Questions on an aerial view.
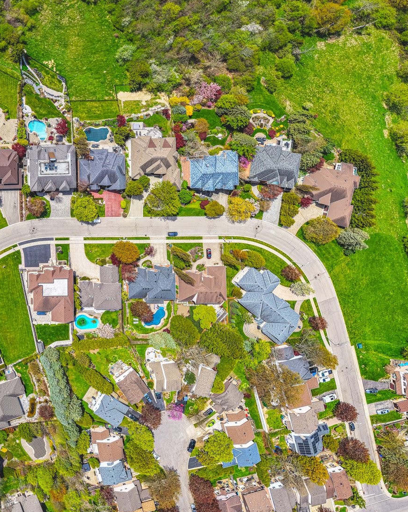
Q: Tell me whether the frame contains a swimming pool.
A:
Yes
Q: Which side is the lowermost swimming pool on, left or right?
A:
left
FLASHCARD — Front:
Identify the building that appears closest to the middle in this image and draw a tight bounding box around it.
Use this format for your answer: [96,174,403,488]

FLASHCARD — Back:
[176,265,226,304]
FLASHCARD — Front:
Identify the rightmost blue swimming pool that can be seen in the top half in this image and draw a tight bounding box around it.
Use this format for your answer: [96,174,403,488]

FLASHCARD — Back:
[83,127,111,144]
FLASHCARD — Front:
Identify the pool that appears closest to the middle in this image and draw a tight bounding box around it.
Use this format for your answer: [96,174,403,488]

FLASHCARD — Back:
[144,306,168,327]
